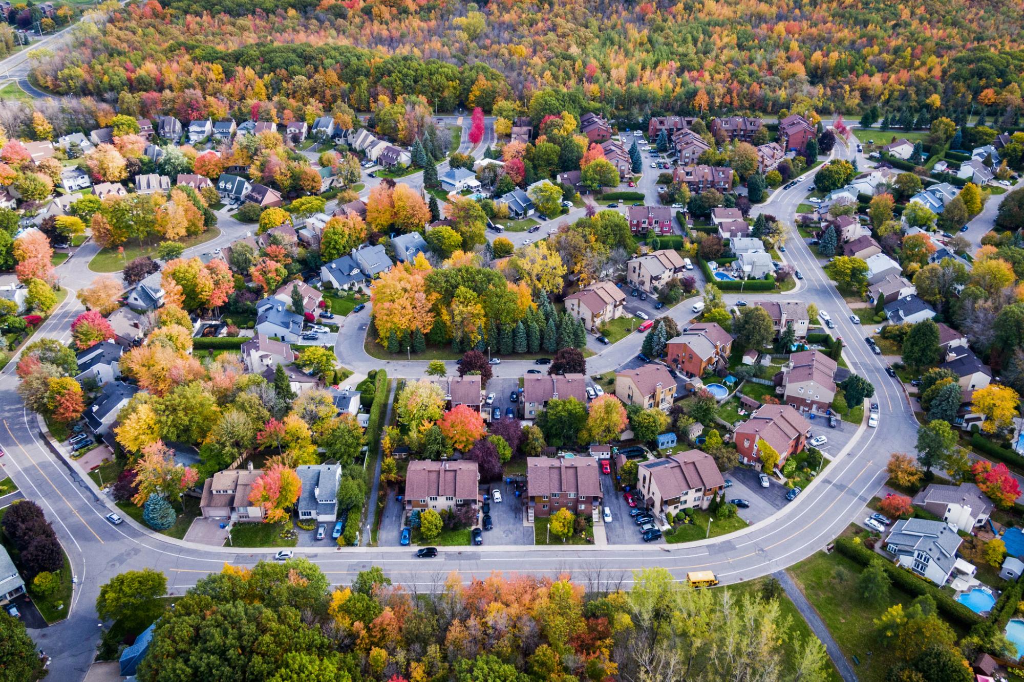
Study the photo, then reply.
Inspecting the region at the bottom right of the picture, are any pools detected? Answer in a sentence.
Yes, at the bottom right of the picture there is a pool.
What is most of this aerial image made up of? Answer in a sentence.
For the most part, this view shows trees.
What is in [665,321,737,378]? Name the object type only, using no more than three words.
house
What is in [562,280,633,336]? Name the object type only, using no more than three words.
house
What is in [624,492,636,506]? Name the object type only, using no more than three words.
vehicle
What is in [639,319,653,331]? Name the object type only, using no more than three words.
vehicle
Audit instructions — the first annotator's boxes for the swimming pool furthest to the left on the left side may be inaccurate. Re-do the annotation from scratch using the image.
[195,320,233,338]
